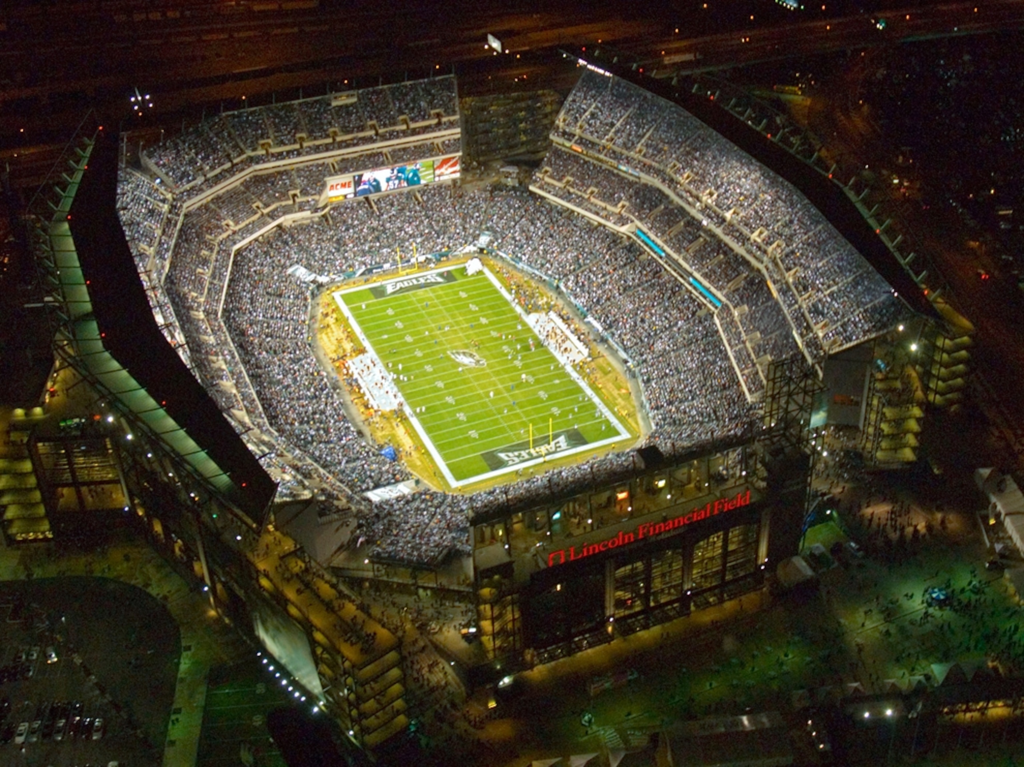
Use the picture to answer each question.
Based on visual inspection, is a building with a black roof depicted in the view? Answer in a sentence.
Yes, I can see a building with a black roof in this picture.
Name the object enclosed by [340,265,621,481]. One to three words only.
sports field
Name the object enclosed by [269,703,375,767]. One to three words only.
building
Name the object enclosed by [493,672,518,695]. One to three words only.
vehicle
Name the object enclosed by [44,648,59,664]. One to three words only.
car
